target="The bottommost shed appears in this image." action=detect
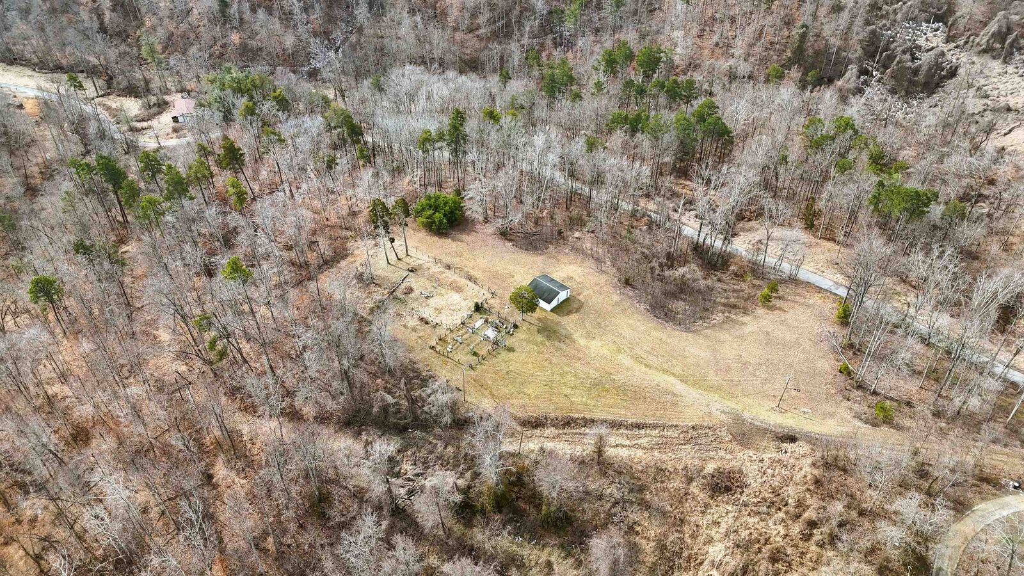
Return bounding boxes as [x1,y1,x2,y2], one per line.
[524,274,574,310]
